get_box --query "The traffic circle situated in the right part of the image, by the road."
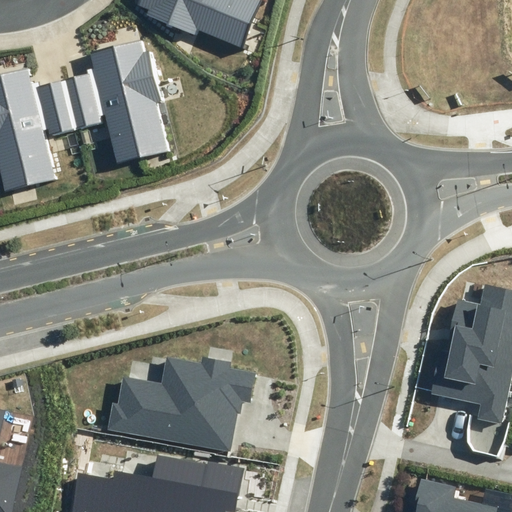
[295,155,407,268]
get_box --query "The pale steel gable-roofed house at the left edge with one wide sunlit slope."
[0,68,60,190]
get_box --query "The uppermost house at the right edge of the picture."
[432,285,512,424]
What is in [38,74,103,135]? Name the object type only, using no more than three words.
house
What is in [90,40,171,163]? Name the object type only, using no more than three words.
house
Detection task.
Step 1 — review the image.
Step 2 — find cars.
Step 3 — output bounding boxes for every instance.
[452,411,466,440]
